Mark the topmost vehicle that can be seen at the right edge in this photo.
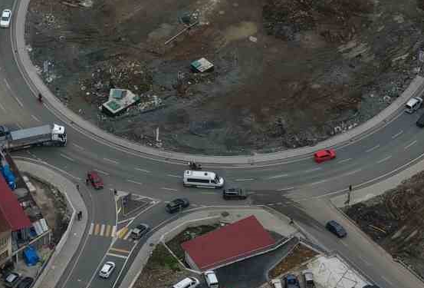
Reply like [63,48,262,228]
[402,96,424,113]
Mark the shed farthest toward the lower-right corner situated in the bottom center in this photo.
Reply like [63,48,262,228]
[180,214,278,284]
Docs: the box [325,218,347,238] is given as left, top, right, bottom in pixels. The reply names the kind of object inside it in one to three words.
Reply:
car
